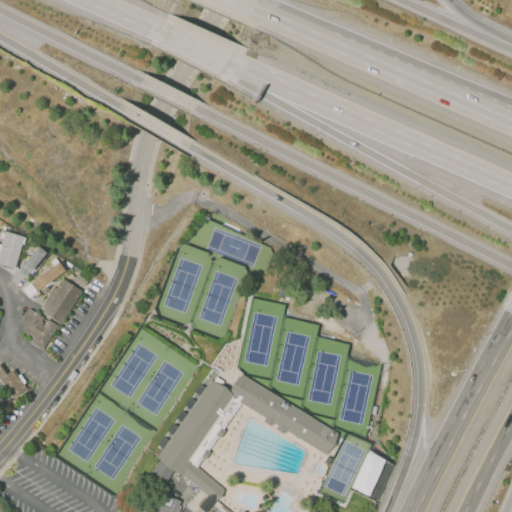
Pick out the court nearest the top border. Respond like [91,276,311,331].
[191,216,273,268]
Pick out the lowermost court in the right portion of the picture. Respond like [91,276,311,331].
[321,435,372,502]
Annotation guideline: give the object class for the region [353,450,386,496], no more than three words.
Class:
building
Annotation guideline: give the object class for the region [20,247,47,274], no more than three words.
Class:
house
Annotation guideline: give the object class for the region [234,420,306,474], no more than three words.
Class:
swimming pool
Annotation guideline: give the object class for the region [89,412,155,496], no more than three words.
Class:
tennis court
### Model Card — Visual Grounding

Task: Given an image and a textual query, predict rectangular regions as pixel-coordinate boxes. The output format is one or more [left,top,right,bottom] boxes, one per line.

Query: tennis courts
[321,435,372,502]
[130,348,198,430]
[102,328,171,411]
[238,298,287,378]
[190,257,248,338]
[272,317,322,400]
[89,412,155,496]
[191,216,273,268]
[303,336,351,418]
[158,246,212,324]
[60,394,128,475]
[335,360,381,438]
